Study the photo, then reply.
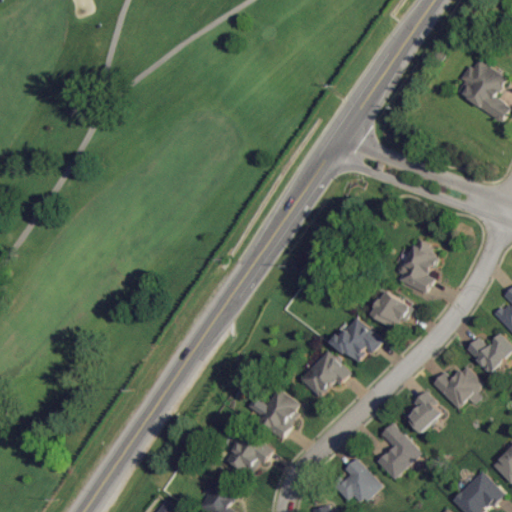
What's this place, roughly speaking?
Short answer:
golf course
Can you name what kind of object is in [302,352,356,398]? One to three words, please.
house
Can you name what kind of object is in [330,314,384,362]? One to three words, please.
house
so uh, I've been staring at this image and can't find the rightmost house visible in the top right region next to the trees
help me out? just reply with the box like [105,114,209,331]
[458,63,512,122]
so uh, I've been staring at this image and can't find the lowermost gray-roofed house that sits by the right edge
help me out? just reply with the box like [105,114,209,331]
[452,472,508,512]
